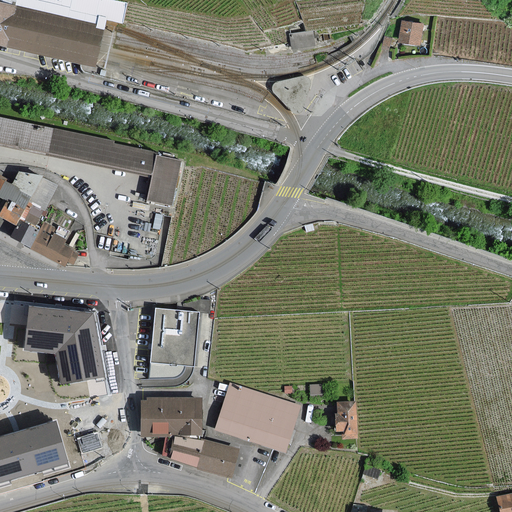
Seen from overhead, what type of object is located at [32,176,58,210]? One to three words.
shed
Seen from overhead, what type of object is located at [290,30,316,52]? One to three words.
building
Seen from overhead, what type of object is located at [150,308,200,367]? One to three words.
building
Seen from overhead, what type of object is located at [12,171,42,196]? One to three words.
house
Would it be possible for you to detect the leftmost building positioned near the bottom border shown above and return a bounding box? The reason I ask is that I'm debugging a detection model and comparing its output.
[0,420,68,490]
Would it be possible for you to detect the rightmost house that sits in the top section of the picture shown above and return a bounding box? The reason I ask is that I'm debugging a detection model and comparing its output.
[399,20,425,45]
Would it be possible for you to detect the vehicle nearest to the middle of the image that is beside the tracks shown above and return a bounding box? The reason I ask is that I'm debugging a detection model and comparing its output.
[255,220,276,242]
